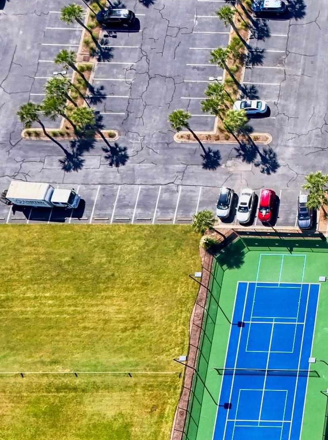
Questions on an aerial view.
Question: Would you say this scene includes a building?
No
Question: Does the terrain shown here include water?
No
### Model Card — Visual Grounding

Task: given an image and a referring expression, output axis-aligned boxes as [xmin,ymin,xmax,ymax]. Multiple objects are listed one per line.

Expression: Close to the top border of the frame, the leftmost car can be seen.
[97,10,135,28]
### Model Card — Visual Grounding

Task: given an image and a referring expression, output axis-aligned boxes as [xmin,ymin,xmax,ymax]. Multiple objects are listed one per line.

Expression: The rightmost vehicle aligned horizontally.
[252,0,286,16]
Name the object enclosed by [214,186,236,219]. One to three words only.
car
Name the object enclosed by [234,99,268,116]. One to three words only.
car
